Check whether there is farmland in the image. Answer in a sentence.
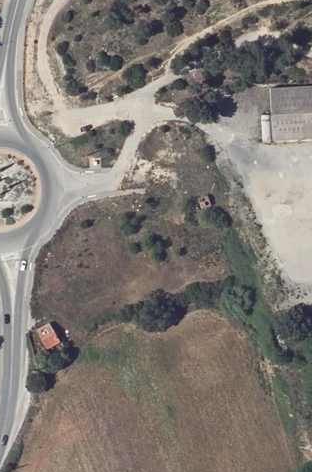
Yes, farmland shows up in the scene.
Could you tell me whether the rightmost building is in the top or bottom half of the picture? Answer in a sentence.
The rightmost building sits in the top half of the picture.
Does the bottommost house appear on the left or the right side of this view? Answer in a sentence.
It is on the left.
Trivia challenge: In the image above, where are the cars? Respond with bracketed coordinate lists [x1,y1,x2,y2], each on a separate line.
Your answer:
[81,124,92,132]
[20,260,26,270]
[4,314,10,324]
[2,434,8,445]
